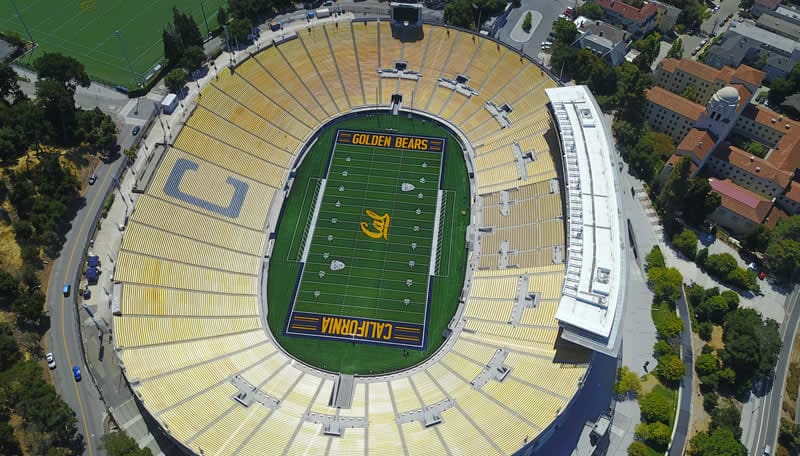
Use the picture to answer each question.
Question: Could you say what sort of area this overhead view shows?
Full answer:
The picture captures a sports ground.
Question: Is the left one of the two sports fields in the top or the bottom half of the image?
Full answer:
Seen from above, the left one of the two sports fields lies in the top half of the view.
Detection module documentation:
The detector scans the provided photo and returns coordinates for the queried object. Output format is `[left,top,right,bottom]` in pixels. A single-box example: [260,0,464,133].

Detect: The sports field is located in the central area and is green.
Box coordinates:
[265,112,473,376]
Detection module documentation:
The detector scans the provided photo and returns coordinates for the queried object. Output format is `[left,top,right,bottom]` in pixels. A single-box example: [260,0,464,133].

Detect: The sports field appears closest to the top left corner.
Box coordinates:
[0,0,233,98]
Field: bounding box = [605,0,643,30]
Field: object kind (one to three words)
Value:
house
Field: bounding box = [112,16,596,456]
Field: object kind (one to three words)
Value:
stadium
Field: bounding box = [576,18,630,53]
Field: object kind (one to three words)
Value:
house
